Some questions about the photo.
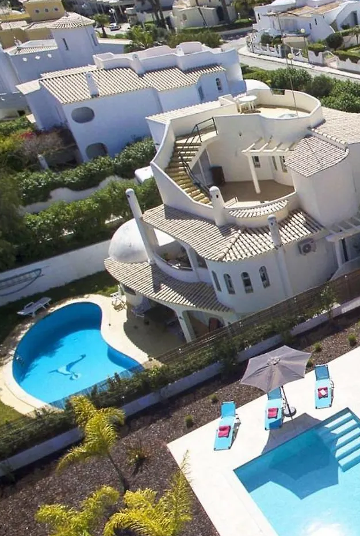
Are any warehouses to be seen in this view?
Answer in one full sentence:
No, the photo shows no warehouse.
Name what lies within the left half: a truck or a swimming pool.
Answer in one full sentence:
The feature located within the left half is a swimming pool.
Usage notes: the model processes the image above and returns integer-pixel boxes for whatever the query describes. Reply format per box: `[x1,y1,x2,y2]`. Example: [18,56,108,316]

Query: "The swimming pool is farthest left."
[3,298,154,411]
